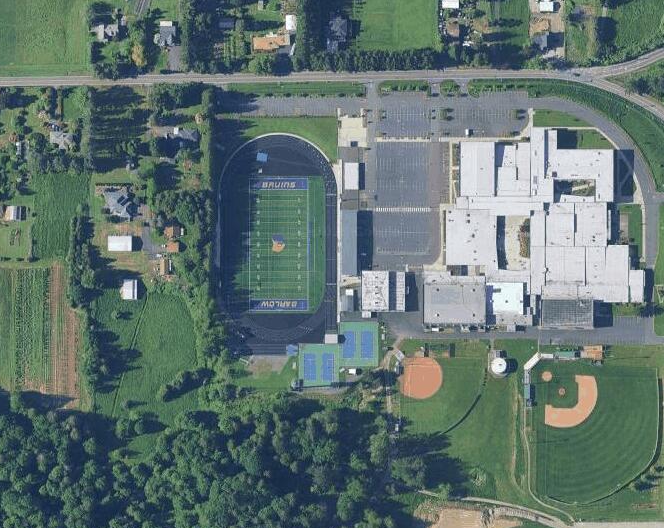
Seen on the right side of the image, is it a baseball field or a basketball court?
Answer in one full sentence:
It is a baseball field that can be seen on the right side of the image.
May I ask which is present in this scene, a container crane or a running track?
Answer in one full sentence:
I can see a running track in this picture.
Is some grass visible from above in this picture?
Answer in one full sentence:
Yes, grass can be seen from above here.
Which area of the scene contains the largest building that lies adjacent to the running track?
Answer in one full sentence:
You can find the largest building that lies adjacent to the running track in the right area of the picture.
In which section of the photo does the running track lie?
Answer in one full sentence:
Look in the center portion of the view to spot the running track.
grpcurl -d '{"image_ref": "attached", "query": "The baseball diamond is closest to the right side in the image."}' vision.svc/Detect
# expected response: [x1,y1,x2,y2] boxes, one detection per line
[531,360,657,503]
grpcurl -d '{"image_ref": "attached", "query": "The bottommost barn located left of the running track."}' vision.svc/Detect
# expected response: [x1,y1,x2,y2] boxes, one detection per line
[121,279,137,300]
